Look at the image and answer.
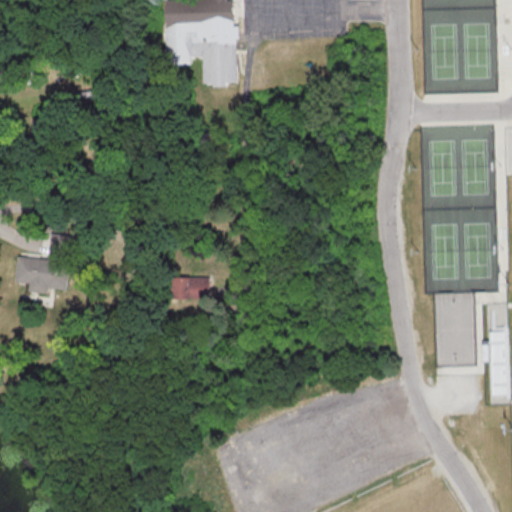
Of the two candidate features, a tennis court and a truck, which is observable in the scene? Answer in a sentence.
Looking from above, you can make out a tennis court.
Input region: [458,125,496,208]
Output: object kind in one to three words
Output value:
tennis court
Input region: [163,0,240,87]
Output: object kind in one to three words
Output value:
building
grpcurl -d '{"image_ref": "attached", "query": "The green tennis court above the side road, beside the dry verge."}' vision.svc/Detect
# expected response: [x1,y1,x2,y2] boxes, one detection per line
[422,8,462,93]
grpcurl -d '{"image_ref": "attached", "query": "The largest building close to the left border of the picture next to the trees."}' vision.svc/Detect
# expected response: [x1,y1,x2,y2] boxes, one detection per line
[16,256,69,295]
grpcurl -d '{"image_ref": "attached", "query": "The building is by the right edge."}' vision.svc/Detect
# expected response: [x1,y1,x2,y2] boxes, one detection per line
[482,310,510,404]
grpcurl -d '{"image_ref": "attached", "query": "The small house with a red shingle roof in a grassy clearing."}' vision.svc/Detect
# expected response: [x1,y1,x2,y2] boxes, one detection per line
[172,275,216,300]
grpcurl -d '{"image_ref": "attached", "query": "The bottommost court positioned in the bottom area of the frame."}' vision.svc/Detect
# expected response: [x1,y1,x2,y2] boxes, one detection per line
[435,292,476,366]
